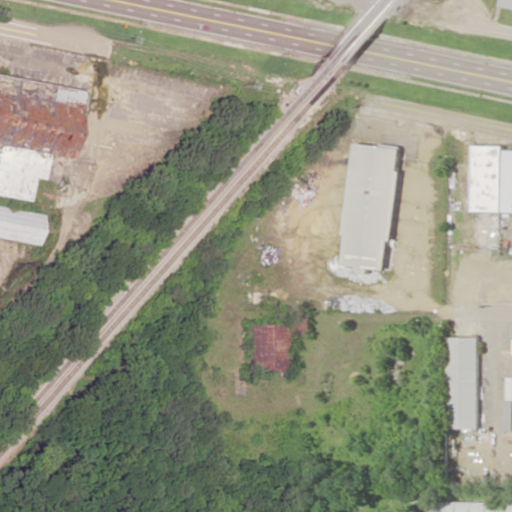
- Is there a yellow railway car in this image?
No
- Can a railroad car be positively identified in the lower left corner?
No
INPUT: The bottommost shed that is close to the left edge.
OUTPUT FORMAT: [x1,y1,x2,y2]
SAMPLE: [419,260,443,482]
[0,206,49,246]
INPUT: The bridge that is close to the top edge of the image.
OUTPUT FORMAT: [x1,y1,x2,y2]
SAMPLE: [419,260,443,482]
[315,0,400,90]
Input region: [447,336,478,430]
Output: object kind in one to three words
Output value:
shed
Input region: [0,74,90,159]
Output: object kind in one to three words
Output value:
building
